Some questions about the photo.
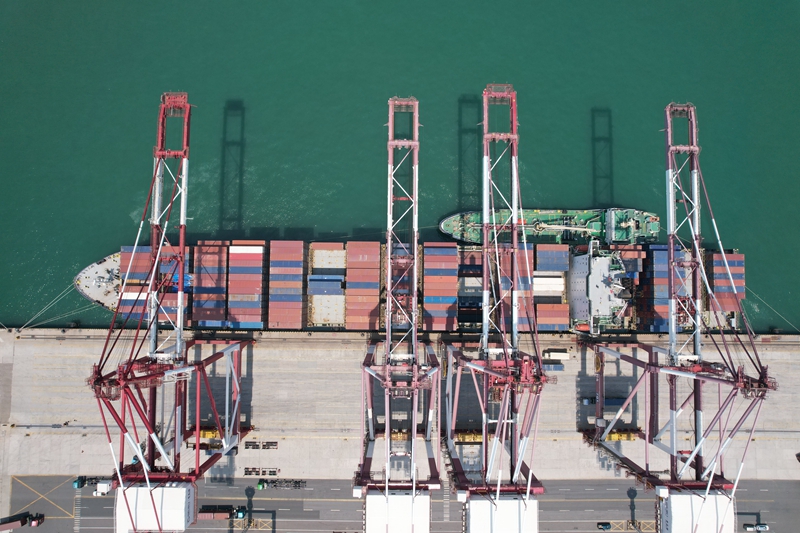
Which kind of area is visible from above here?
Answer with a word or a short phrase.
port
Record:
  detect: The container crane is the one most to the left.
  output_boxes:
[85,87,266,533]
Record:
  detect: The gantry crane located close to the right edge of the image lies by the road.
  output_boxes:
[570,100,773,533]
